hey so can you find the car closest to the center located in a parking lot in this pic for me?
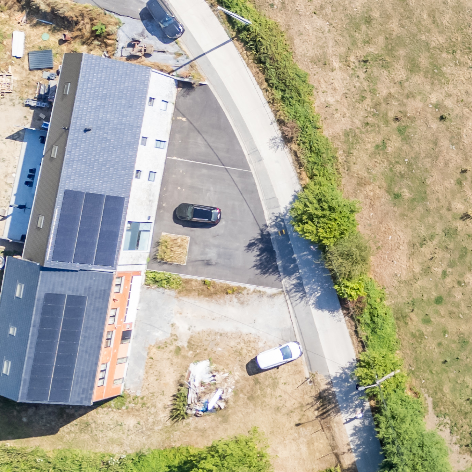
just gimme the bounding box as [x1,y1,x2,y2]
[175,200,225,227]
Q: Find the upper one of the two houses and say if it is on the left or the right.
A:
left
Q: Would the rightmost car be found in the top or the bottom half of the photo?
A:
bottom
